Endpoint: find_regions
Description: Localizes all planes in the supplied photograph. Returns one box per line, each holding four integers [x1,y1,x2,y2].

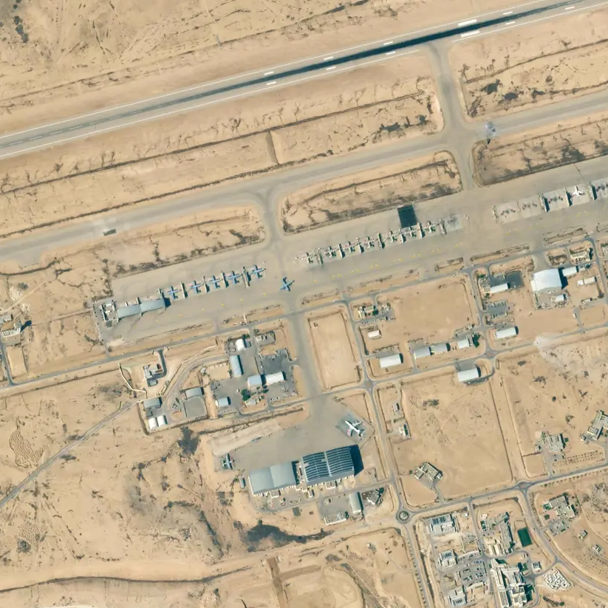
[323,245,338,257]
[190,280,203,292]
[301,250,315,263]
[228,270,240,280]
[572,186,584,197]
[167,285,179,297]
[280,277,293,290]
[209,275,222,286]
[404,225,419,237]
[222,453,234,467]
[343,240,358,252]
[385,230,400,241]
[252,265,263,276]
[362,235,376,247]
[423,220,437,232]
